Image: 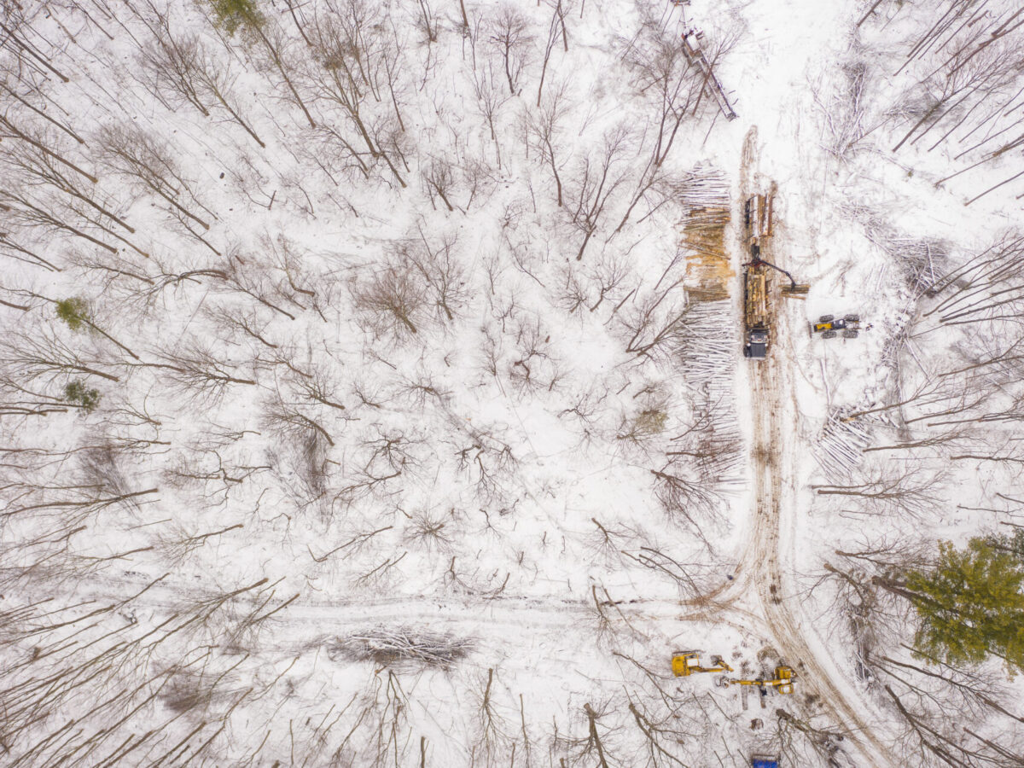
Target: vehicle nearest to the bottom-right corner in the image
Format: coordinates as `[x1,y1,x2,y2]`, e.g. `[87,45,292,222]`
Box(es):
[717,666,799,694]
